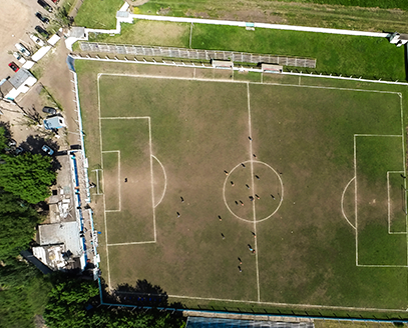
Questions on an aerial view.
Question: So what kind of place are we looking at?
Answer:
sports ground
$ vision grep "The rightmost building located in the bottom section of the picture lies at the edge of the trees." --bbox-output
[23,155,78,275]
